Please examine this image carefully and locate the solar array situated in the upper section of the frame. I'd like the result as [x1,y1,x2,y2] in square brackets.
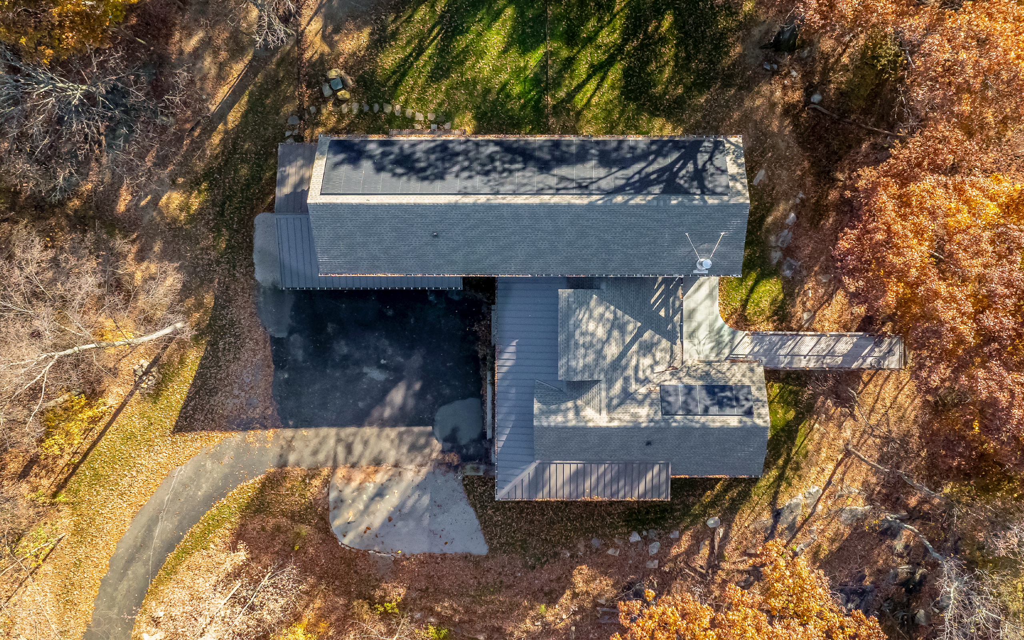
[321,139,731,195]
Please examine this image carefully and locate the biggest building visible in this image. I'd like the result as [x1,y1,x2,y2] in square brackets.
[274,129,771,502]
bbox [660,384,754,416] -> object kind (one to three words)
solar array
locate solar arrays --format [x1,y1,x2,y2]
[321,139,731,195]
[660,384,754,416]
